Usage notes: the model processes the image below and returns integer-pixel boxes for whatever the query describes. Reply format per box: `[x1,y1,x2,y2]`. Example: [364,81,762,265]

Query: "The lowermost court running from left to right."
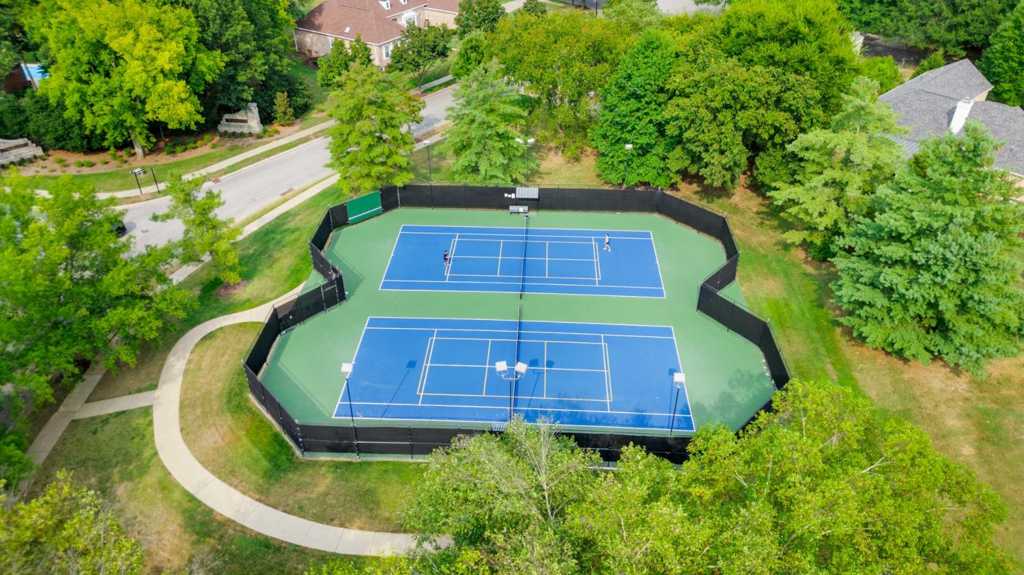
[333,316,696,431]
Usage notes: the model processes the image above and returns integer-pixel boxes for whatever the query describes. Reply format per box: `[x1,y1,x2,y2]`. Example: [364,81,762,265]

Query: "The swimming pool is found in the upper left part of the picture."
[16,63,42,82]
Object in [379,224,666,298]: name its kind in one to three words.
tennis court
